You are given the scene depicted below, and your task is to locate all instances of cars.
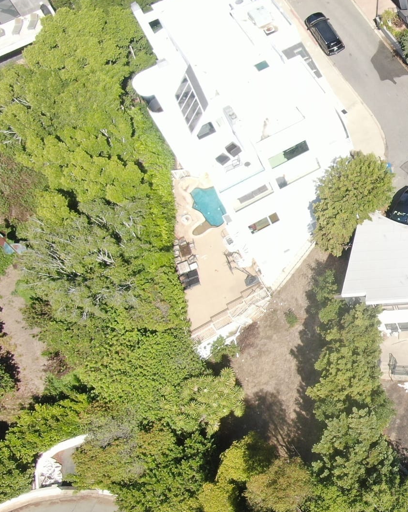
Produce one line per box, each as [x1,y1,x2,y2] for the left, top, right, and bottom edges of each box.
[383,180,408,225]
[306,14,342,53]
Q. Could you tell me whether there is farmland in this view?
No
